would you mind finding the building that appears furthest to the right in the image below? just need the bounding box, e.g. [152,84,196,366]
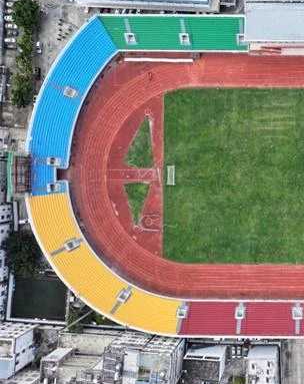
[246,344,280,384]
